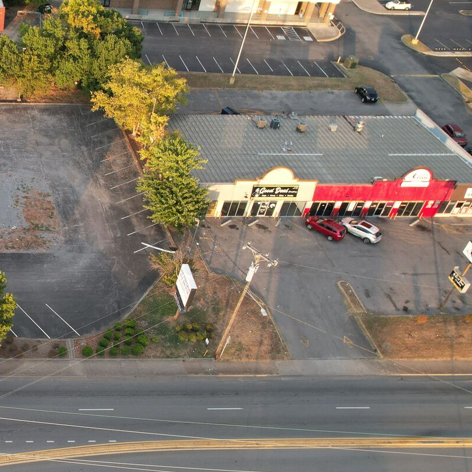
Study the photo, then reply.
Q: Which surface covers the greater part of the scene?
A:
paved ground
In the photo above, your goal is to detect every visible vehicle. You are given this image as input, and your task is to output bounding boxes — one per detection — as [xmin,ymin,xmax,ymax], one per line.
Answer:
[442,121,469,142]
[353,82,380,100]
[344,215,387,242]
[386,1,412,10]
[308,214,352,239]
